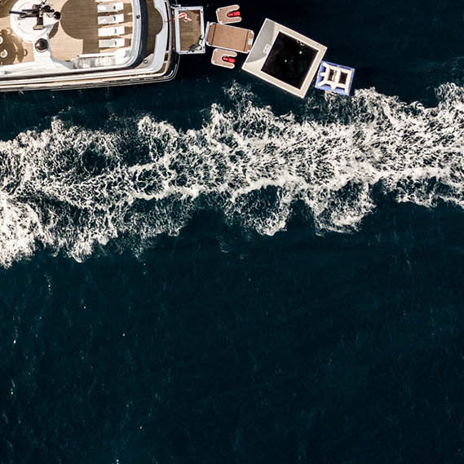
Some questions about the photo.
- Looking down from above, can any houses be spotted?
No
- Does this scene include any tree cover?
No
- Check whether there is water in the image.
Yes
